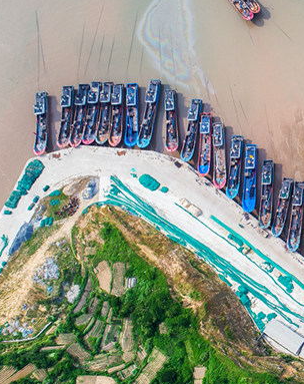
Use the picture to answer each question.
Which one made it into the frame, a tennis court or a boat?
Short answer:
boat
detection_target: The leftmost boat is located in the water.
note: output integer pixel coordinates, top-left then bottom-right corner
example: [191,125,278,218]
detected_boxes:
[33,91,49,156]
